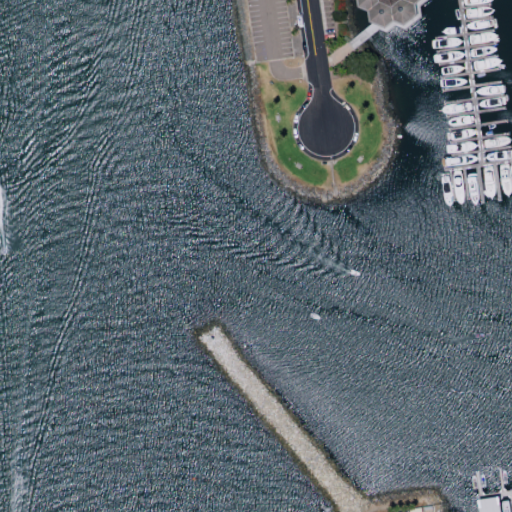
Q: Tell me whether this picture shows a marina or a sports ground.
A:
marina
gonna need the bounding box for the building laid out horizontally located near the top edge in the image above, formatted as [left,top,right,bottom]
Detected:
[355,0,428,33]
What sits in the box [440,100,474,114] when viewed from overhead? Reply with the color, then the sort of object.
white boat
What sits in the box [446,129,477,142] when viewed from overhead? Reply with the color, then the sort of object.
white boat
